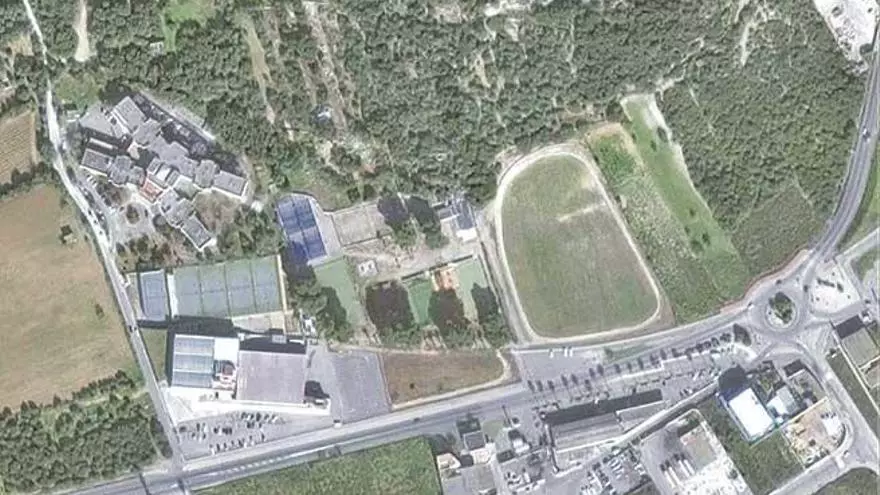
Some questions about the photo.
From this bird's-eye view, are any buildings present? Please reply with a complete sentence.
Yes, the photo shows a building.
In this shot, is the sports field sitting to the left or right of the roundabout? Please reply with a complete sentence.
Looking at the picture, you'll find the sports field to the left of the roundabout.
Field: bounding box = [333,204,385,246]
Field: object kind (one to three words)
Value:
sports court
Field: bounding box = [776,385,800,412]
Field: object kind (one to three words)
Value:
house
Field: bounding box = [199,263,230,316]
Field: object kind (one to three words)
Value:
tennis court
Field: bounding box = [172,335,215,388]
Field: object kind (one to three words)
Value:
building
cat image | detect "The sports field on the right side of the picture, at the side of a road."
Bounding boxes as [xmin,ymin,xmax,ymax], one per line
[495,150,660,342]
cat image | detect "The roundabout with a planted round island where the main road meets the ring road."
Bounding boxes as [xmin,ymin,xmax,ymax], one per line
[751,277,813,339]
